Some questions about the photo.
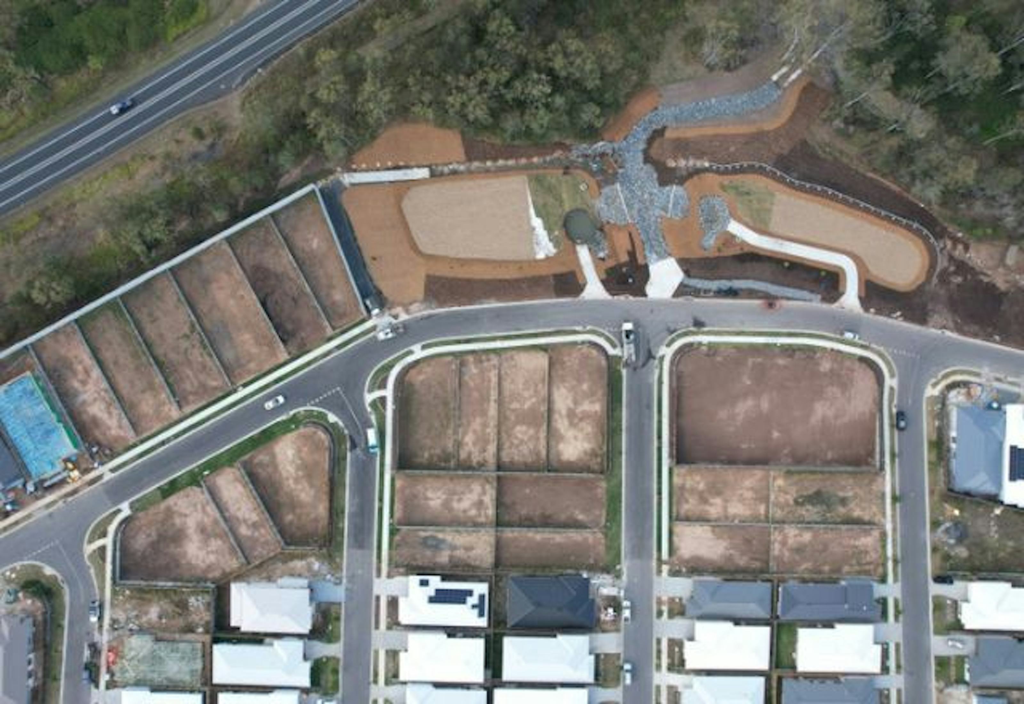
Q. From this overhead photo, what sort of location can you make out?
residential area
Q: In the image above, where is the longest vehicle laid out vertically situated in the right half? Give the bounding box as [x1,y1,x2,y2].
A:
[623,322,636,363]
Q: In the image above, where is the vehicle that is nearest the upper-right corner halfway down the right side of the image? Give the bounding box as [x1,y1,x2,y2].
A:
[840,328,864,343]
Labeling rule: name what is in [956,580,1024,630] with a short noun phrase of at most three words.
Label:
house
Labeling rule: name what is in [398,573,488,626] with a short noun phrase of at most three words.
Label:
house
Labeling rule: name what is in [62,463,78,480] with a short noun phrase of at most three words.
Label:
work vehicle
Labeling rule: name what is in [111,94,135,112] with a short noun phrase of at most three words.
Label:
car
